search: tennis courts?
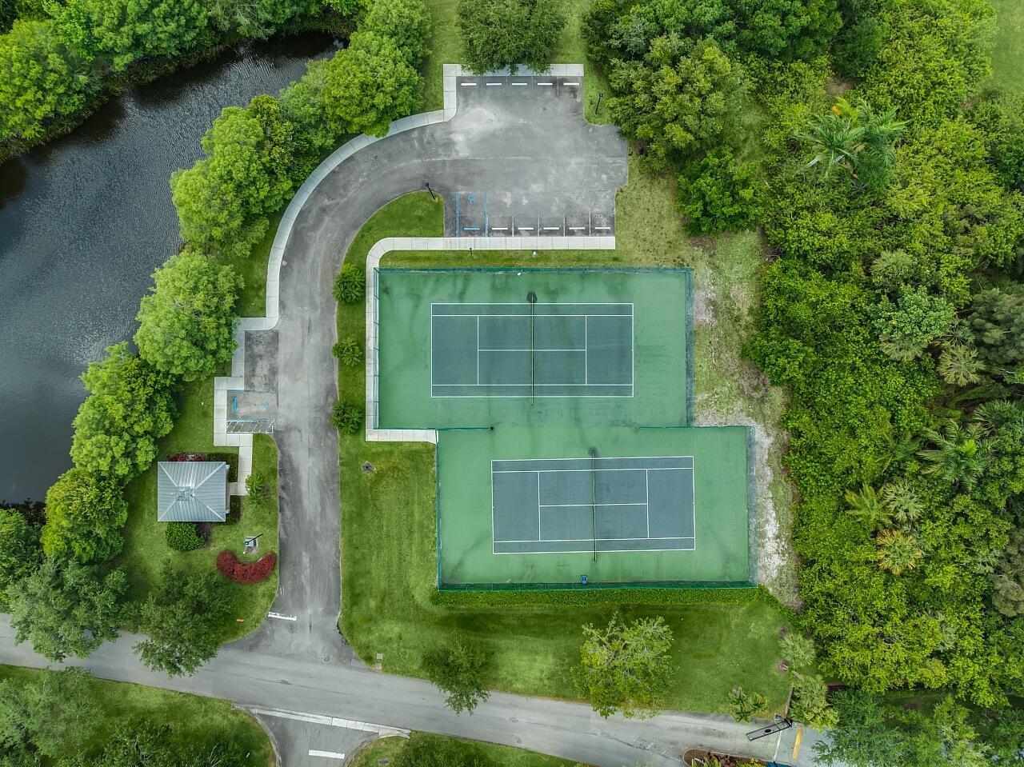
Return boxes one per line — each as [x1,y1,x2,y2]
[438,428,750,585]
[379,273,687,430]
